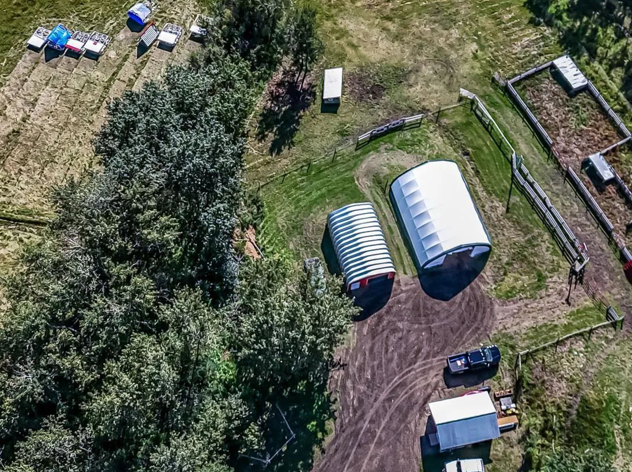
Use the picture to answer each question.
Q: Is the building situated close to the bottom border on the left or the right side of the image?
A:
right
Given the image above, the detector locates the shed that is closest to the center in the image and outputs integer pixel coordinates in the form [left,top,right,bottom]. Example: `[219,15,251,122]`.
[333,205,394,291]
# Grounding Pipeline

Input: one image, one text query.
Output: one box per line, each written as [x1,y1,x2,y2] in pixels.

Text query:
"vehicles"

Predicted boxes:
[440,458,487,472]
[444,347,504,376]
